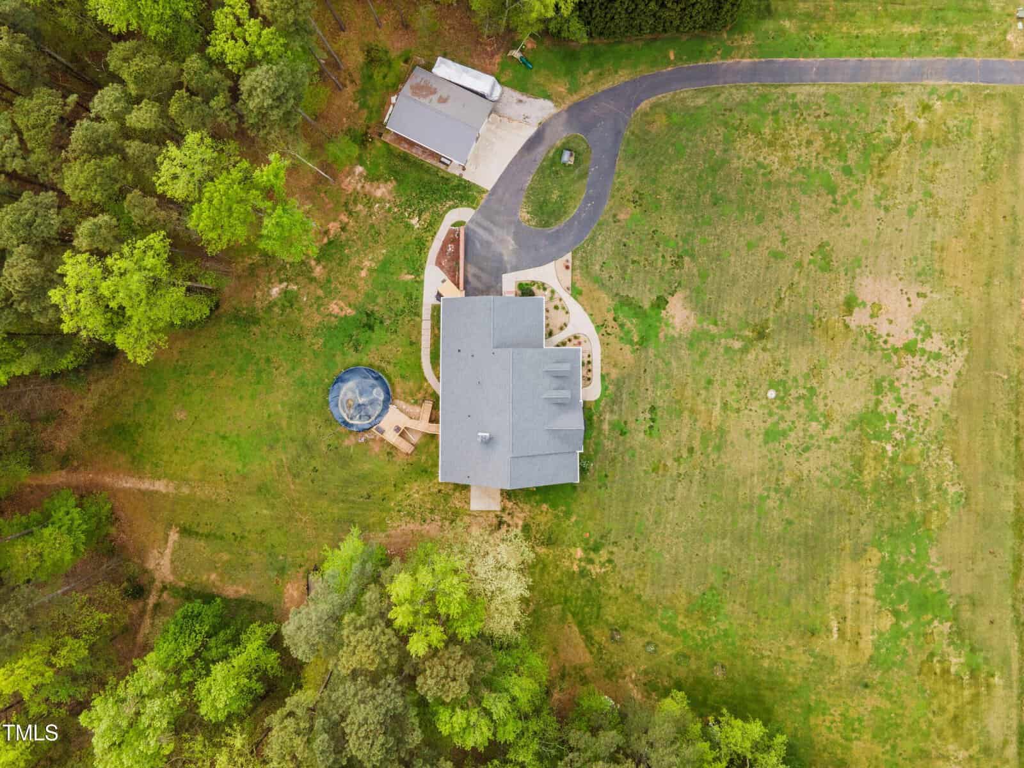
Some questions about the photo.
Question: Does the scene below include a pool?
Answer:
Yes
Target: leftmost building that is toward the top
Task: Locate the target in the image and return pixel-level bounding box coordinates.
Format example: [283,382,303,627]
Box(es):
[388,64,494,166]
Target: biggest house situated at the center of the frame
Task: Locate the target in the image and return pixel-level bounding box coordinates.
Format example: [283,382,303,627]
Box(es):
[438,296,586,489]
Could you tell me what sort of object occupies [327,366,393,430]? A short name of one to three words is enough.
swimming pool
